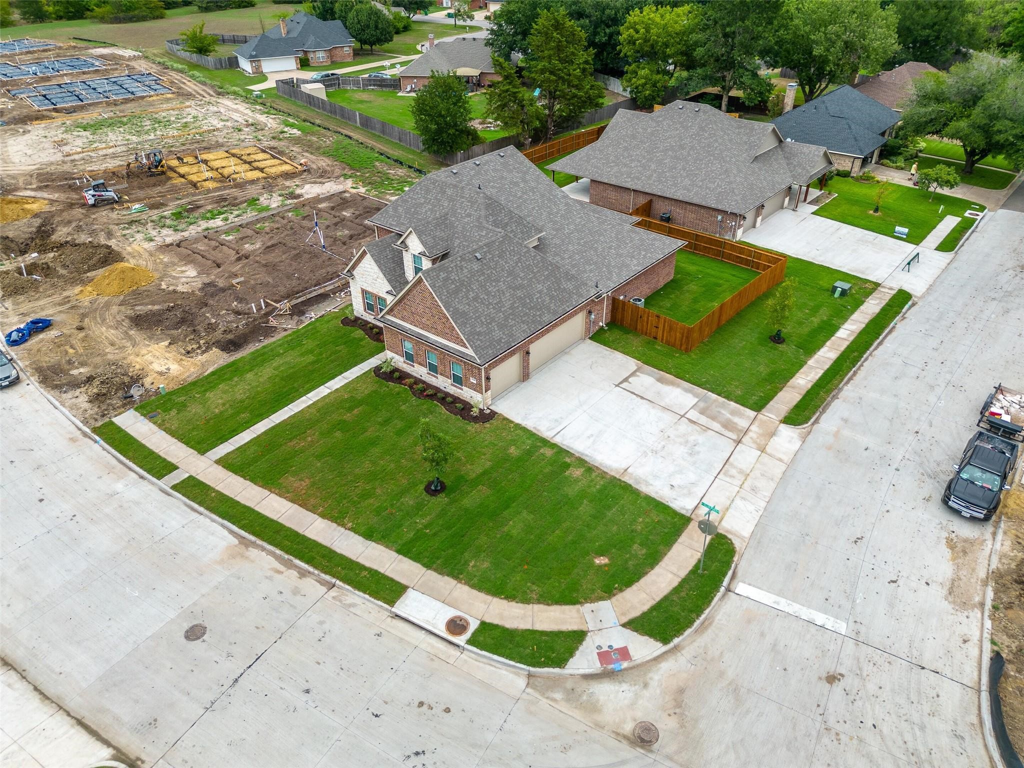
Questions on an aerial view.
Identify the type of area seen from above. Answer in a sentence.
What you see here is a residential area.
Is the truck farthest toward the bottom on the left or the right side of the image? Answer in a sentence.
The truck farthest toward the bottom appears in the right half of the scene.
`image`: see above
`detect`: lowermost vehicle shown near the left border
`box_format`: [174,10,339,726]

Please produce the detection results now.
[0,344,22,388]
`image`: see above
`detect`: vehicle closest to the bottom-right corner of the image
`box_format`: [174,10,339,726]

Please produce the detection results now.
[941,430,1021,527]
